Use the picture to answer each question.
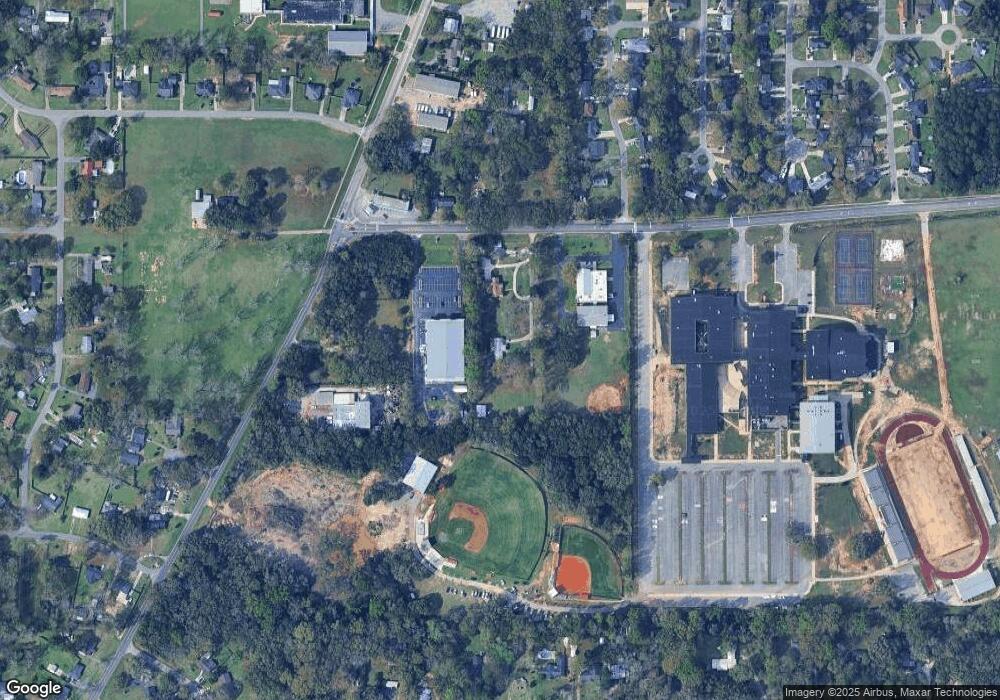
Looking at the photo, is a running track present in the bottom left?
No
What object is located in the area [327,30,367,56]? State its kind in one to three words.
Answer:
barn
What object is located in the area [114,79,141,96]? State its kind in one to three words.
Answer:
house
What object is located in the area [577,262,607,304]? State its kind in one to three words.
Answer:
building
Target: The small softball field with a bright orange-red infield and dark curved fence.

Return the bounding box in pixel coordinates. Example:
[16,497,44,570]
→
[555,524,628,599]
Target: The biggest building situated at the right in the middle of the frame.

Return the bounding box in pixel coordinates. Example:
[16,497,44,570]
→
[671,290,805,464]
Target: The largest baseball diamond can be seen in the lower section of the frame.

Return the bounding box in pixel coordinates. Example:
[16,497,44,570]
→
[430,421,597,580]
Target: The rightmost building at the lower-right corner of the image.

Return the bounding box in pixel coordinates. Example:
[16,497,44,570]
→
[955,569,996,598]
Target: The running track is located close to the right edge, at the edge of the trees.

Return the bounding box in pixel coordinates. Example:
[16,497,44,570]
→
[872,413,992,595]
